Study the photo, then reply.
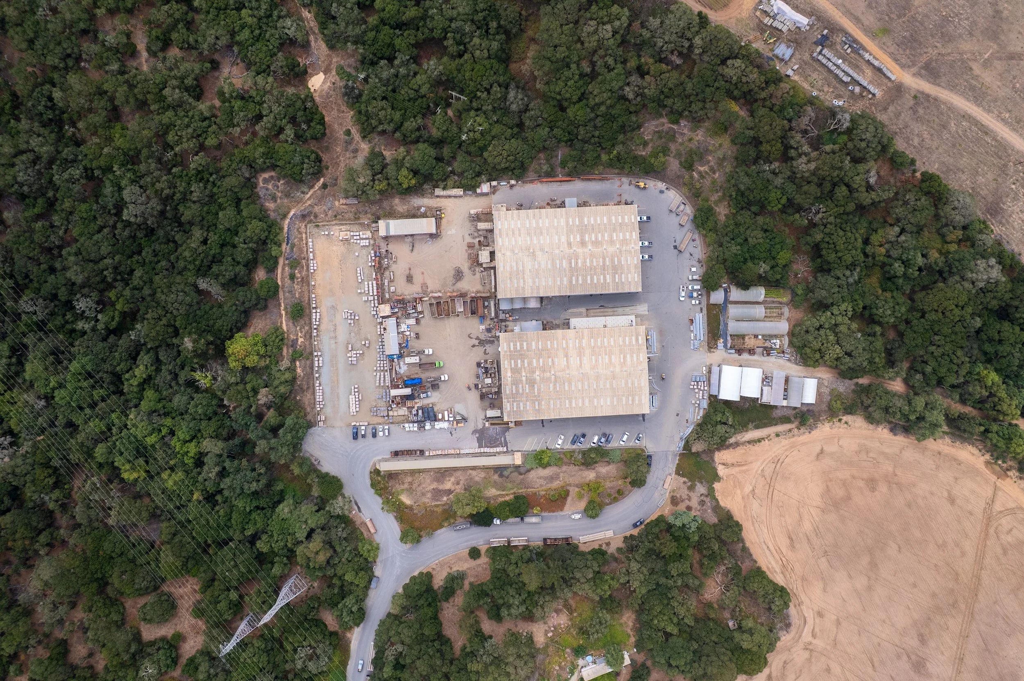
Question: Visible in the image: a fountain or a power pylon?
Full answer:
Visible in the photo is a power pylon.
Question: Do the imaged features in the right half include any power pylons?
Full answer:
No, I can find no power pylon in the right half.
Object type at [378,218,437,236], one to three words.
shed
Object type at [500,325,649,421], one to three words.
building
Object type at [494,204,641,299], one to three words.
building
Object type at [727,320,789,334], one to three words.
greenhouse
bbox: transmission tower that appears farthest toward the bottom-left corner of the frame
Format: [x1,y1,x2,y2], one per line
[219,621,260,659]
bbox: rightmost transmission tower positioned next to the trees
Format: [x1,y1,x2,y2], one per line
[257,571,313,629]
